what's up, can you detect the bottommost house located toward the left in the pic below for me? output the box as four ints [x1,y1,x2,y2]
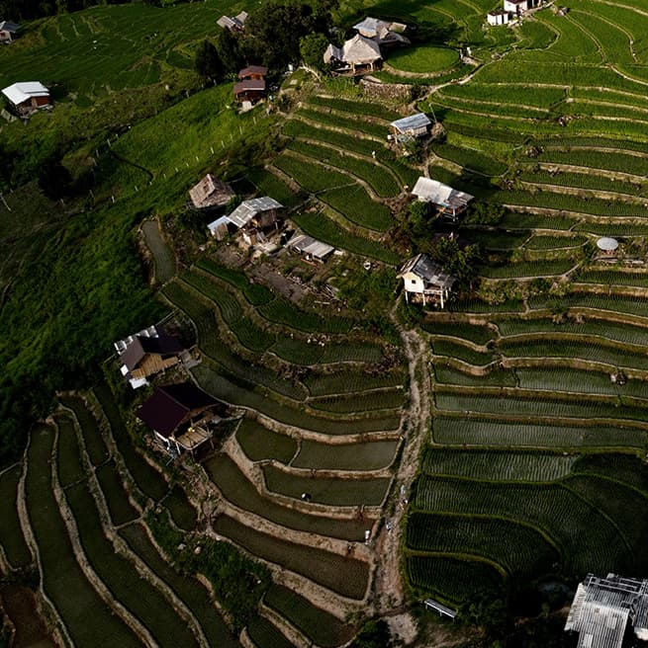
[136,380,218,456]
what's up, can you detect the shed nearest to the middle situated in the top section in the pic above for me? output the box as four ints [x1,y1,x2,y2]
[290,235,335,268]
